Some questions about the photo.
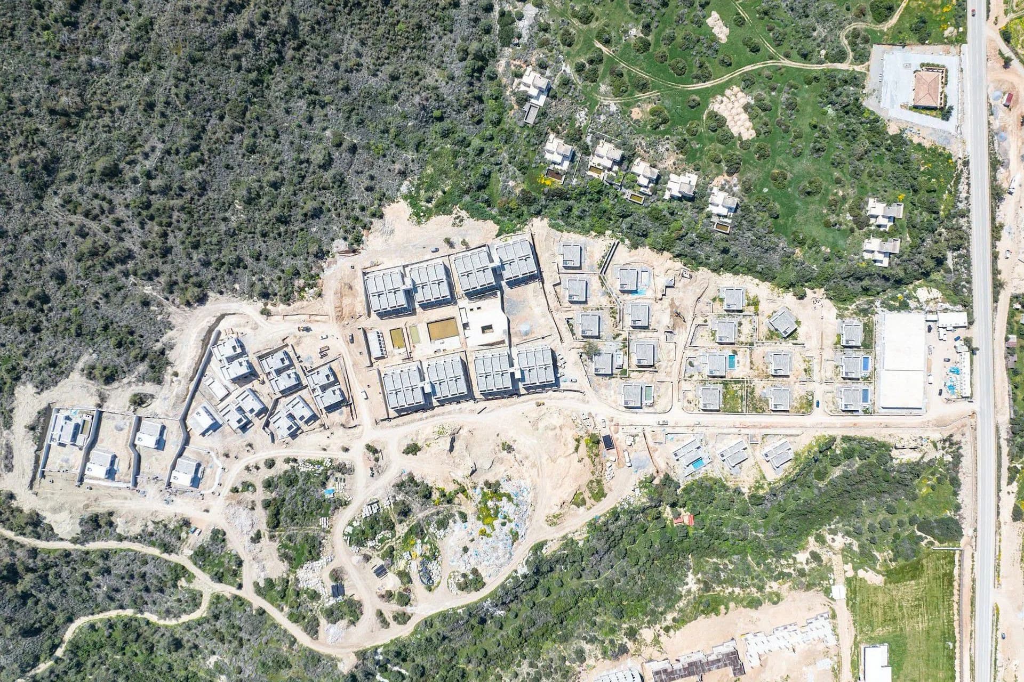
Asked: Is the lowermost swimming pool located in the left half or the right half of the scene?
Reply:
right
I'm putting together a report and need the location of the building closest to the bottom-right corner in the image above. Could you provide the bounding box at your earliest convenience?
[858,642,892,682]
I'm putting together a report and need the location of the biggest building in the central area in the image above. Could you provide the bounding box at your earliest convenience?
[458,291,509,351]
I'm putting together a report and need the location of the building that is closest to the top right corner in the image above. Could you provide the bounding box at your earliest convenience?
[910,67,944,109]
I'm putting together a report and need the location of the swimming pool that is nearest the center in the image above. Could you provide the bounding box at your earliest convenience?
[426,316,460,342]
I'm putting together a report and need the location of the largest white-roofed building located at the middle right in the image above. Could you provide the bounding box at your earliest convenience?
[878,314,925,408]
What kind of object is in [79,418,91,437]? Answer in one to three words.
swimming pool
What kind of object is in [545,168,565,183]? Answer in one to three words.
swimming pool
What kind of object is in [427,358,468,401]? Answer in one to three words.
building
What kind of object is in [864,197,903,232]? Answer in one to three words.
house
